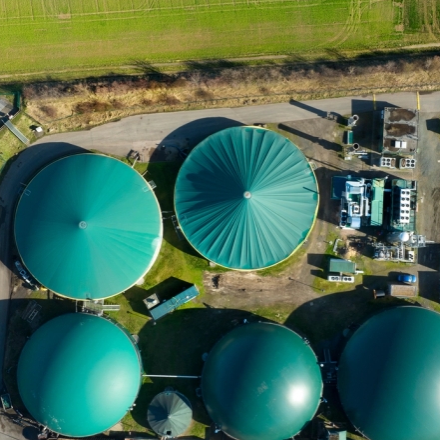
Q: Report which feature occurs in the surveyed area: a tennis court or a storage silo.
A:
storage silo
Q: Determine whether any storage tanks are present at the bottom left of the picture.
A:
Yes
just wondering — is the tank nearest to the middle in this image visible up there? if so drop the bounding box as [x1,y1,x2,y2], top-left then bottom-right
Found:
[171,126,319,270]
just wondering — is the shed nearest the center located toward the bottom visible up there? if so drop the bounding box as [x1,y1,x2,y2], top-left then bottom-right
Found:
[150,284,202,319]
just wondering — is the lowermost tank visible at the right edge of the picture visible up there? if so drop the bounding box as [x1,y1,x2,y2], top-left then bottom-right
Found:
[334,302,440,440]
